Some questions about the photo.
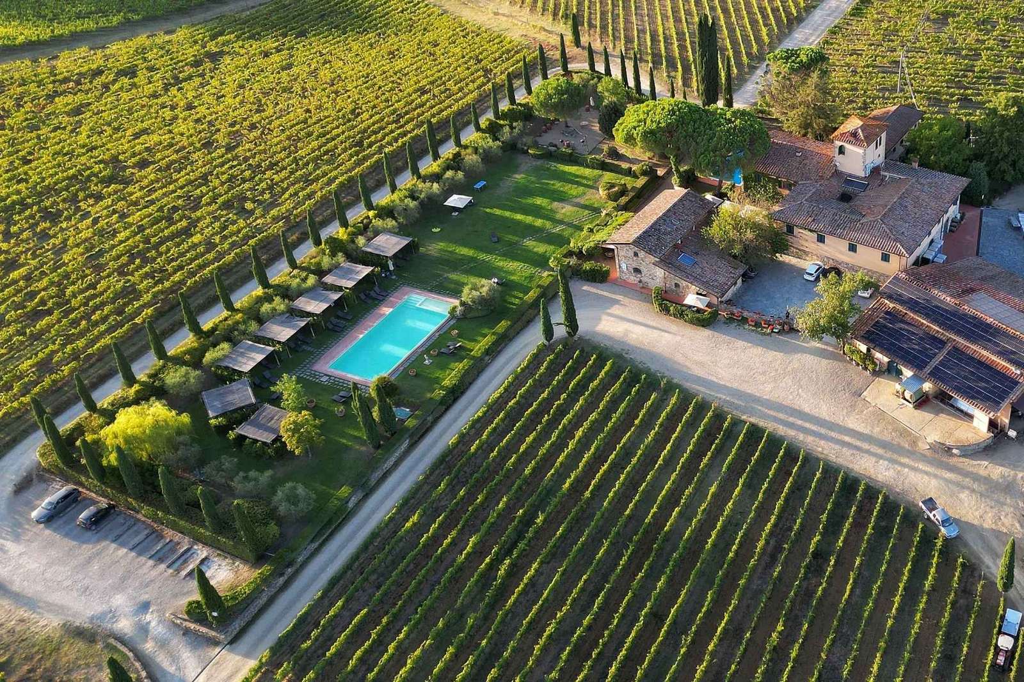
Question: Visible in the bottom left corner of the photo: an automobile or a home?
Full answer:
Looking in the bottom left corner of the photo, you will find an automobile.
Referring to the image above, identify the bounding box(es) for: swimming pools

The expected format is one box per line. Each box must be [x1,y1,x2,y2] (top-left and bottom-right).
[309,286,459,386]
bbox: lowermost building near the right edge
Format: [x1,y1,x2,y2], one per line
[853,246,1024,421]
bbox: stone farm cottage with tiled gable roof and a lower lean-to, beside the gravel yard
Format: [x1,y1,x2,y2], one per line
[598,188,748,303]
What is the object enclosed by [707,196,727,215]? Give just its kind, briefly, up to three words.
umbrella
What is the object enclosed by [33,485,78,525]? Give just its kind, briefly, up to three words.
car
